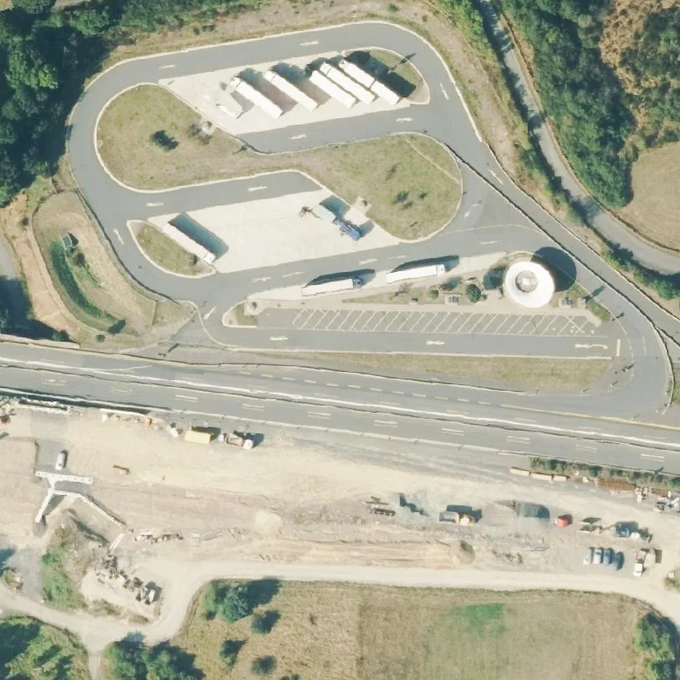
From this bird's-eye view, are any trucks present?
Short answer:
Yes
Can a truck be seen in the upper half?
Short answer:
Yes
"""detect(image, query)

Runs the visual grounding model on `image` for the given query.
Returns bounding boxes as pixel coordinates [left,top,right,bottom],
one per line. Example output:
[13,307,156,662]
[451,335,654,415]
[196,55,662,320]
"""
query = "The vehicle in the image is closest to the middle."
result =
[299,278,362,296]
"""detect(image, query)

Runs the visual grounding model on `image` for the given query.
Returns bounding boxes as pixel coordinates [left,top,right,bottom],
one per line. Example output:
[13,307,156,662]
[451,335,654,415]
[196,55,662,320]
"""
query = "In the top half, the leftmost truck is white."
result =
[161,221,216,263]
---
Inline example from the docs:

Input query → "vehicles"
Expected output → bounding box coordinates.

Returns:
[586,549,595,565]
[161,221,216,263]
[613,554,623,570]
[320,207,363,240]
[299,278,362,296]
[341,57,399,104]
[603,549,611,565]
[230,75,284,120]
[594,548,602,565]
[644,550,656,573]
[54,450,65,470]
[441,511,473,526]
[264,69,320,113]
[225,433,256,450]
[386,264,447,282]
[305,65,359,111]
[322,61,376,104]
[631,532,641,540]
[555,519,568,525]
[598,521,631,538]
[633,551,646,575]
